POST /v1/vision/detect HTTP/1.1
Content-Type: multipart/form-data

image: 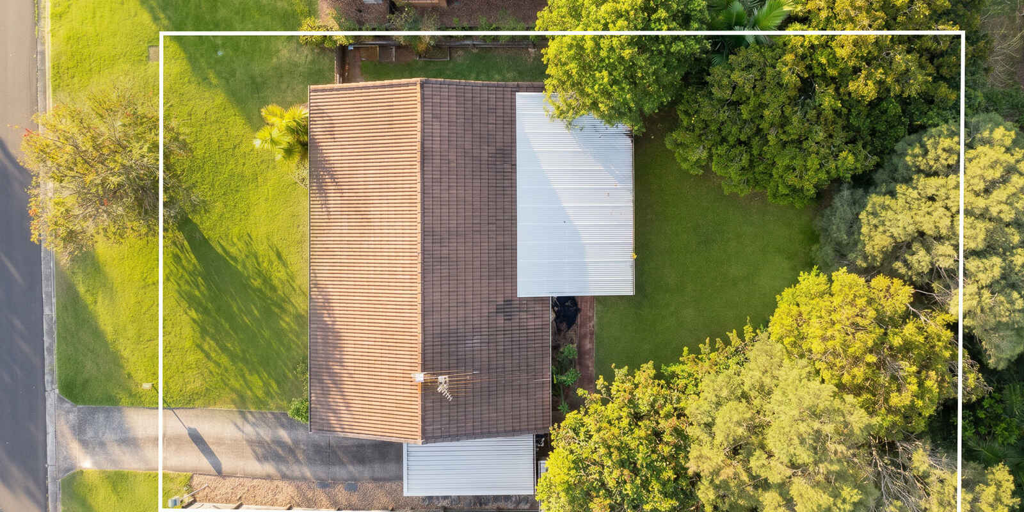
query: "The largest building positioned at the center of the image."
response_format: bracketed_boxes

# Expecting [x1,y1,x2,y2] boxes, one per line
[306,78,554,445]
